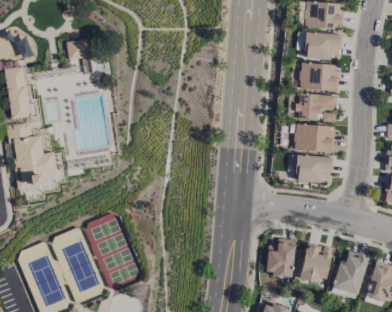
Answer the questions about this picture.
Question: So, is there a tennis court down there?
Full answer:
Yes, there's a tennis court here.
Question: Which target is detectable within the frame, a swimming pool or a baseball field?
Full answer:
The one in the frame is a swimming pool.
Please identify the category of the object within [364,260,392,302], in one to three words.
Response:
house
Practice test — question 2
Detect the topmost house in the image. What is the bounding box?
[304,2,344,30]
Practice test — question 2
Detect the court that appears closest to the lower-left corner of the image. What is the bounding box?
[19,243,70,312]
